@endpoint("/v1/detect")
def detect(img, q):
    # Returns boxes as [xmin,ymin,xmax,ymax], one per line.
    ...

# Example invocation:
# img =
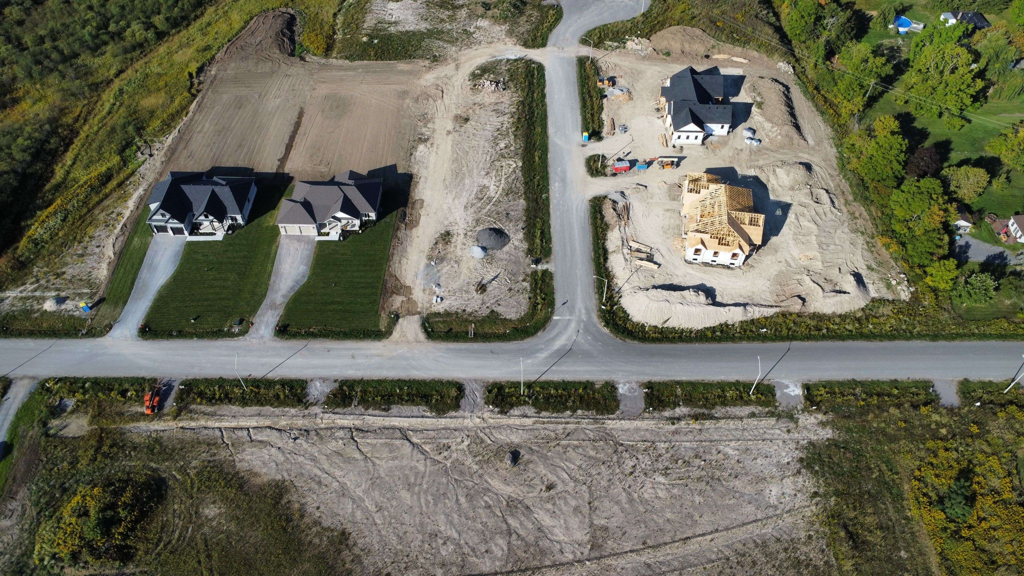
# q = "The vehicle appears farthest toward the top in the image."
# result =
[598,74,612,86]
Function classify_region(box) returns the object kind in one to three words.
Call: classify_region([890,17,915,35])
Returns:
swimming pool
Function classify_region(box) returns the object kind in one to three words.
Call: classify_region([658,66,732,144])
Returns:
house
